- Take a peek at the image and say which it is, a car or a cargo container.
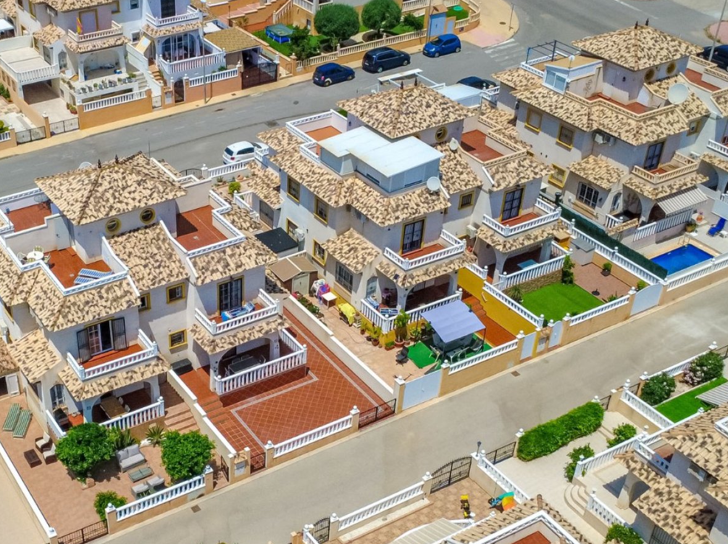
car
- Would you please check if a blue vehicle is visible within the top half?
Yes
